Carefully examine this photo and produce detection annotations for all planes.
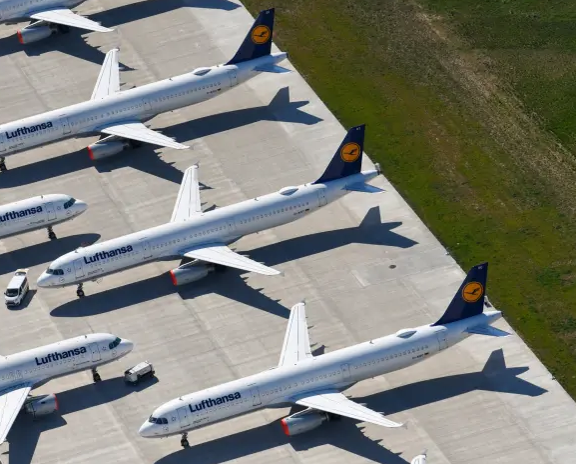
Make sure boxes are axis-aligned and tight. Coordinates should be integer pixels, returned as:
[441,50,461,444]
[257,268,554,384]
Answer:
[140,263,512,446]
[0,0,119,44]
[36,125,387,296]
[0,193,88,241]
[0,8,295,170]
[0,334,133,445]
